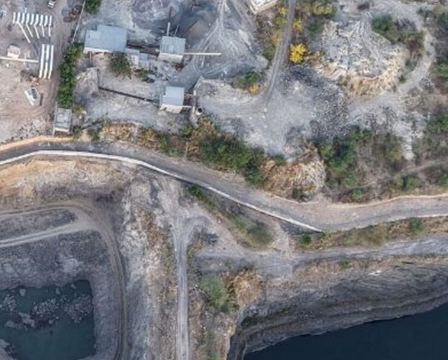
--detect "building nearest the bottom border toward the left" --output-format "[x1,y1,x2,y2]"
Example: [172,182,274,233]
[56,108,71,129]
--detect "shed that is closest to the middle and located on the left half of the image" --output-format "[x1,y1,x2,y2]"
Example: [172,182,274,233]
[157,85,184,114]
